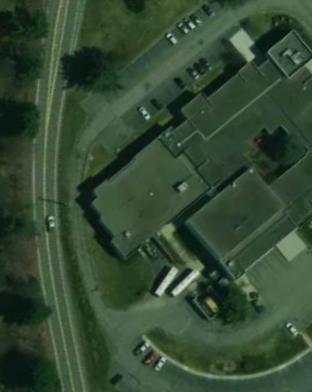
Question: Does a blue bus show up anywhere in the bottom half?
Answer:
No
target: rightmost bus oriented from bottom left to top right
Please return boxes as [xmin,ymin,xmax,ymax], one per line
[172,269,200,294]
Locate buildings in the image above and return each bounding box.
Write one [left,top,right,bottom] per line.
[89,31,312,279]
